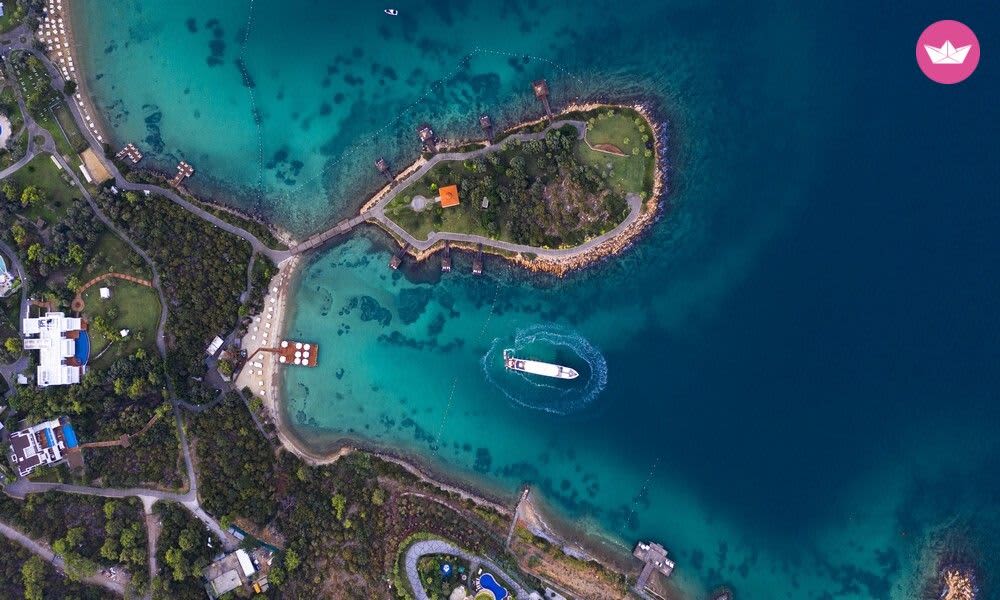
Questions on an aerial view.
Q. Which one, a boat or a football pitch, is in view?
boat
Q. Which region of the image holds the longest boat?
center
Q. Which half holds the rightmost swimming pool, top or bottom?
bottom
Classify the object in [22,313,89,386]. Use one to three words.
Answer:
house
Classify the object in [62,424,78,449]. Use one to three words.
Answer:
swimming pool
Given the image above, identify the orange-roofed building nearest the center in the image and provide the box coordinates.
[436,185,460,208]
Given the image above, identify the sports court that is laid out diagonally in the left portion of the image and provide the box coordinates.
[81,149,109,184]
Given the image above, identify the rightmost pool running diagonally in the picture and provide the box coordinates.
[479,573,506,600]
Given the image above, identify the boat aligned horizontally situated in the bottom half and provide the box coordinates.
[504,349,580,378]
